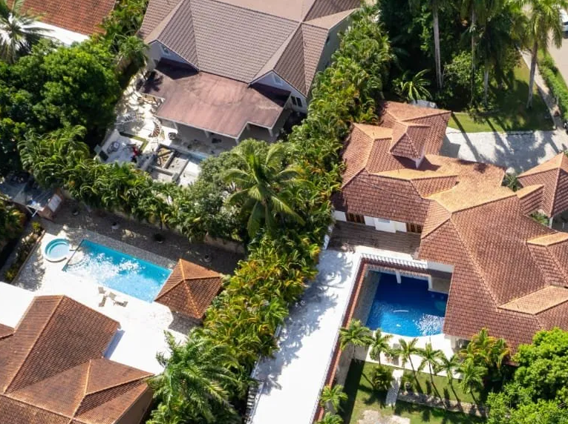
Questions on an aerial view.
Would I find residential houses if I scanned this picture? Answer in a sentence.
Yes, looking at the shot, I can spot a residential house.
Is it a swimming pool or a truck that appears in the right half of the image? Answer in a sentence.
There is a swimming pool in the right half of the image.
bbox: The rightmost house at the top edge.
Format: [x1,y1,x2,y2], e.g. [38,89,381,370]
[138,0,359,147]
